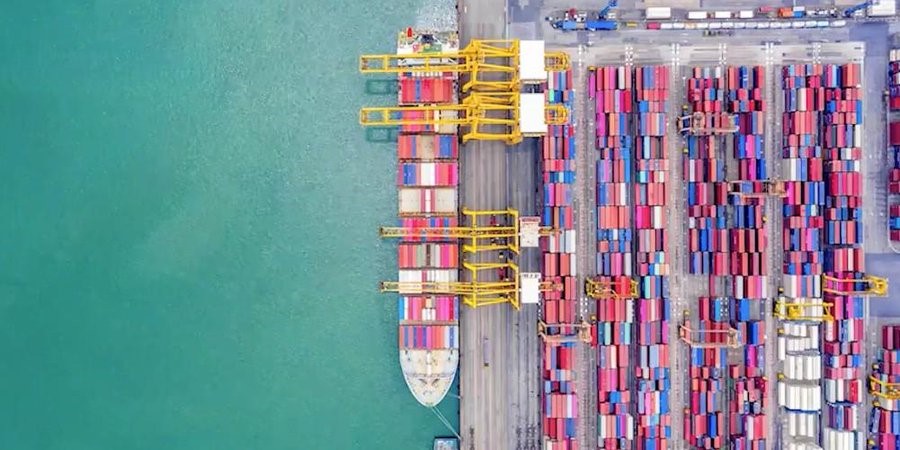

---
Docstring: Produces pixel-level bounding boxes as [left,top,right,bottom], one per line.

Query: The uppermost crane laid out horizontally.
[359,40,572,95]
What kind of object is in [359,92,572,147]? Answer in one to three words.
container crane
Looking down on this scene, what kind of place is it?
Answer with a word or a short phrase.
port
